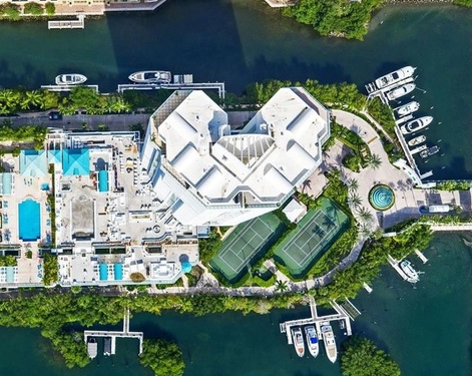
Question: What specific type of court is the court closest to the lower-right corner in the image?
tennis court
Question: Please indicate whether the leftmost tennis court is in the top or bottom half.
bottom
